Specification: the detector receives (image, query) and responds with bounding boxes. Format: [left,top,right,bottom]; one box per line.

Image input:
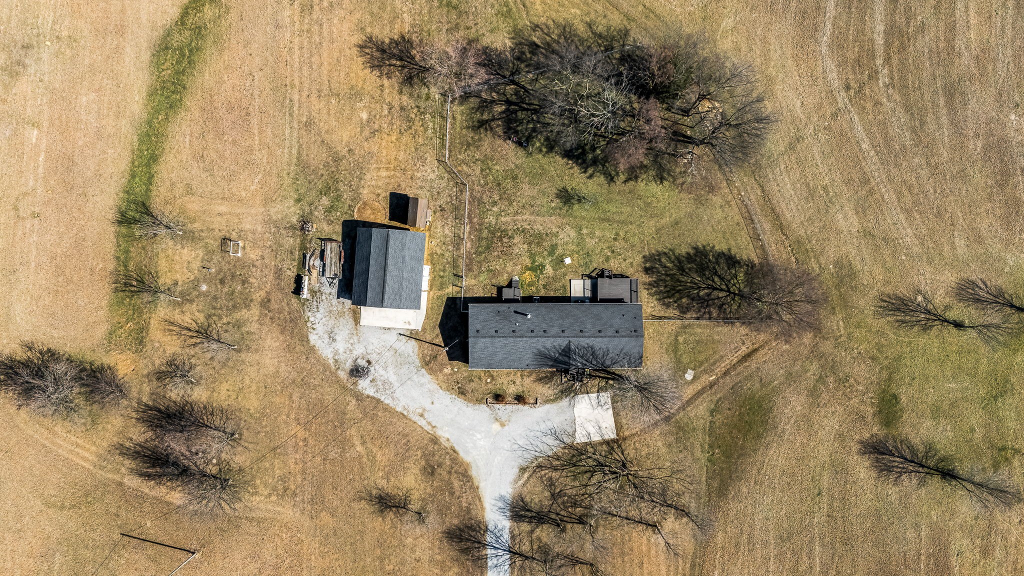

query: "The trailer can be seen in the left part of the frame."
[322,243,342,289]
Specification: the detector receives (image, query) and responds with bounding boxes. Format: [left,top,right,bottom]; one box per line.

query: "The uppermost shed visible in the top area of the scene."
[409,195,432,229]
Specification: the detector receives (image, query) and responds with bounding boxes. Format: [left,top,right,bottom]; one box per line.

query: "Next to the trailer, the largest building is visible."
[352,228,426,309]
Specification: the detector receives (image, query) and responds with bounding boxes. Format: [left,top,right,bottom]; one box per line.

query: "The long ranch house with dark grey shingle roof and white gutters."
[469,302,644,372]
